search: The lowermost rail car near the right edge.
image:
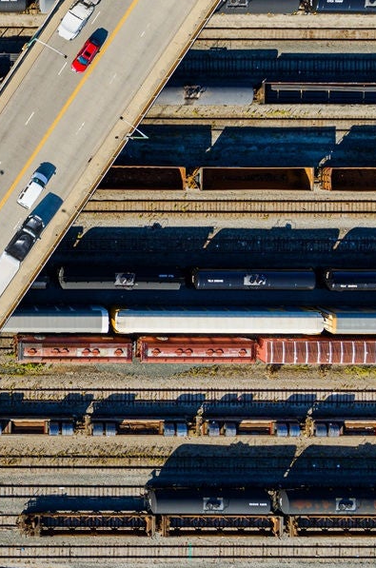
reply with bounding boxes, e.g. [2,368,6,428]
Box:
[272,485,376,518]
